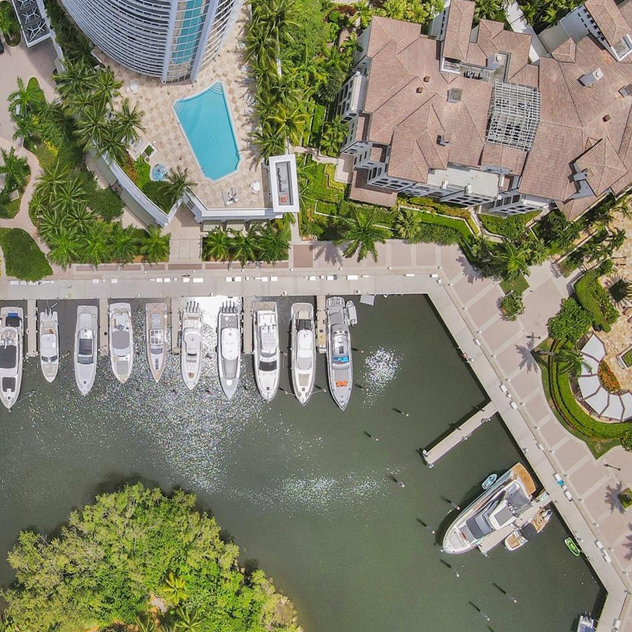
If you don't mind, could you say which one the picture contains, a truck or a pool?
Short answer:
pool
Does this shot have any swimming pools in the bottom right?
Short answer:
No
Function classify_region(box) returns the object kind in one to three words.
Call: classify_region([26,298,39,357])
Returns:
pier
